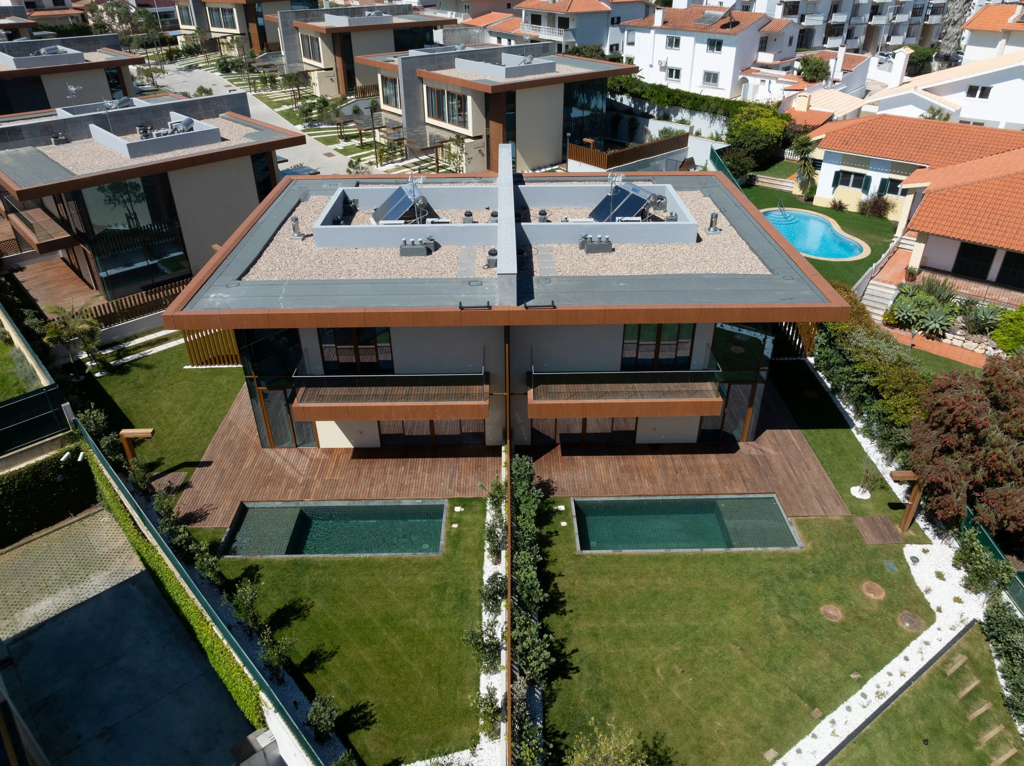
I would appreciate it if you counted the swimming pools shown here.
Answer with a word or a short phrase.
3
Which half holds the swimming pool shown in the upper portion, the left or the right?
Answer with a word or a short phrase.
right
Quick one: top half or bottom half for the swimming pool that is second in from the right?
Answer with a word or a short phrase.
bottom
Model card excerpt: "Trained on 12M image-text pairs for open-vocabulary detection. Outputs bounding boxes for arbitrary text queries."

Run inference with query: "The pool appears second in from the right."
[572,493,804,554]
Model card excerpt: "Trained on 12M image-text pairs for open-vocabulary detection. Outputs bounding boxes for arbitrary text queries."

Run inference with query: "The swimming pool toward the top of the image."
[761,198,870,260]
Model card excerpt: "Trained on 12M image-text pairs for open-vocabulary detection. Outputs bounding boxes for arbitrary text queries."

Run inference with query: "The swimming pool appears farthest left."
[221,498,447,560]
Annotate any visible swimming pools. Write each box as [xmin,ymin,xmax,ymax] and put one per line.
[572,493,804,554]
[761,198,870,260]
[221,498,447,560]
